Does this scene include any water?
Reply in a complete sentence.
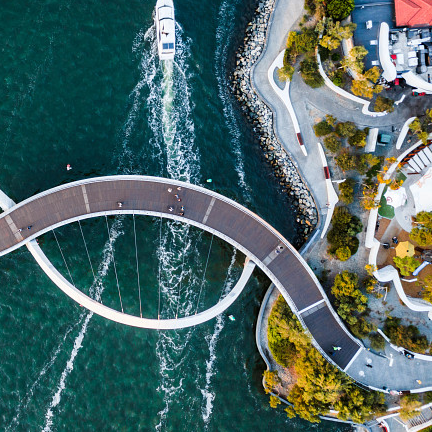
Yes, water can be seen from above here.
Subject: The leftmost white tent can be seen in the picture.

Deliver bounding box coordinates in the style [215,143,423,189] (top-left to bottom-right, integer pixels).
[382,188,407,208]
